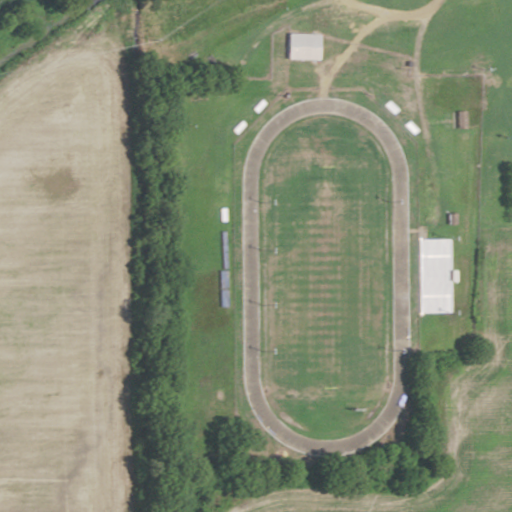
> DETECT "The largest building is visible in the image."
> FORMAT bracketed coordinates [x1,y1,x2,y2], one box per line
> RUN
[288,31,323,64]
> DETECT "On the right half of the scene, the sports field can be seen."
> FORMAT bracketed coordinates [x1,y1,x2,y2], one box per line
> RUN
[279,167,376,388]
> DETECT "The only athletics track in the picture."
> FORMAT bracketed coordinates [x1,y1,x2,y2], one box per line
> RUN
[243,98,409,456]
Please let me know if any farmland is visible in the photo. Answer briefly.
Yes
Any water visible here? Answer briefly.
No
